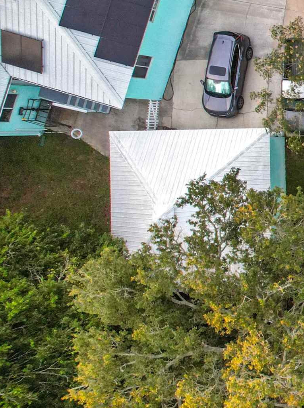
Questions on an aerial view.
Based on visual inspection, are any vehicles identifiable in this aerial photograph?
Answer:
Yes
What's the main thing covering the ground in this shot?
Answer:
trees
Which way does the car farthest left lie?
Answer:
up and down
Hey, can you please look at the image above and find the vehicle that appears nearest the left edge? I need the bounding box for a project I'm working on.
[203,33,253,123]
